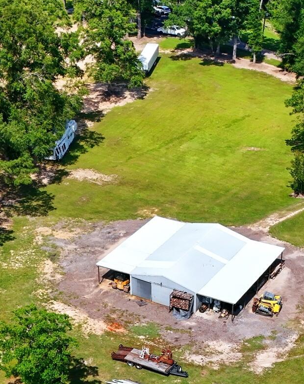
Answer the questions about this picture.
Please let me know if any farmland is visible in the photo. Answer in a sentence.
No, no farmland is visible.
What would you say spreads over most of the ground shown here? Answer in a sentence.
For the most part, this view shows grass.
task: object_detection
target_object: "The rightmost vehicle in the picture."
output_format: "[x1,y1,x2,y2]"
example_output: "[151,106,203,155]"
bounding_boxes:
[251,288,284,312]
